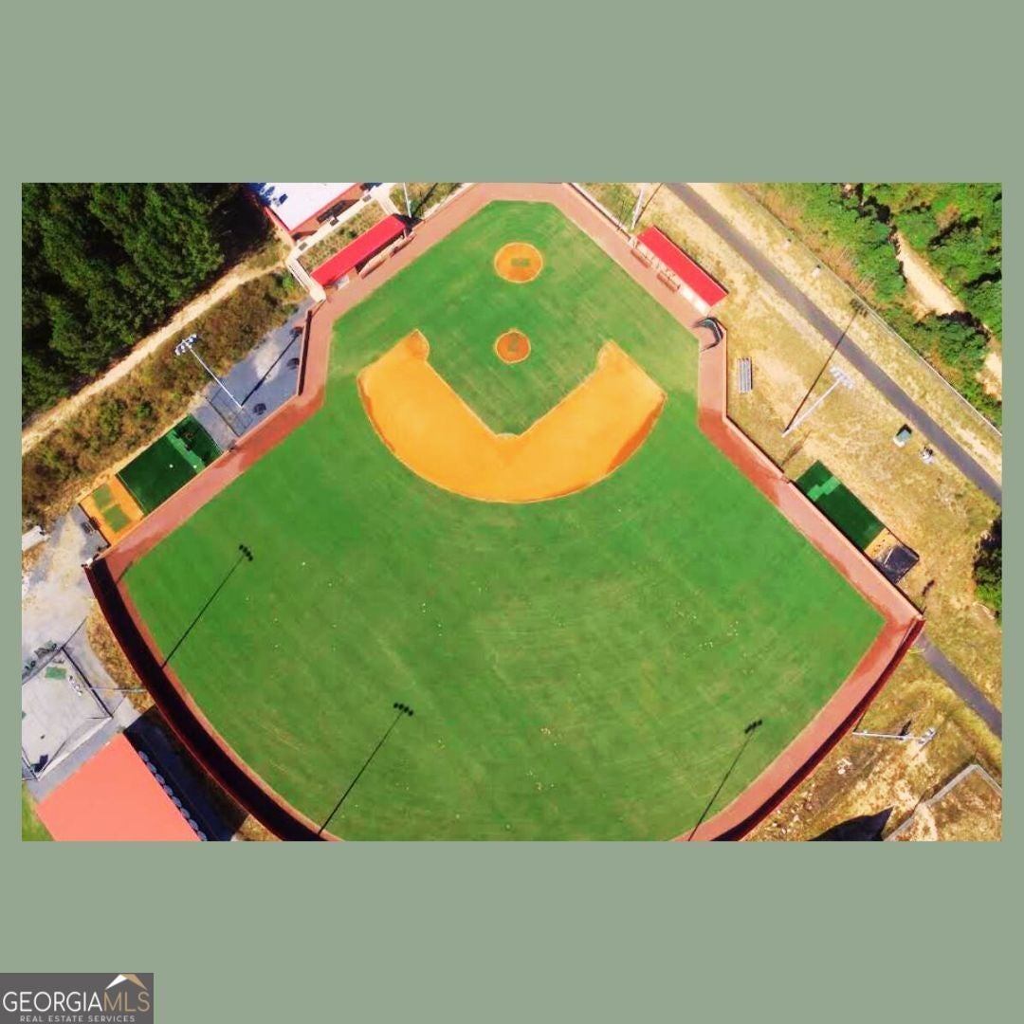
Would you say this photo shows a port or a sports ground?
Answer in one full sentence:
This image shows a sports ground.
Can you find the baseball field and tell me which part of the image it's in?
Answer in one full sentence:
The baseball field is in the center part of the image.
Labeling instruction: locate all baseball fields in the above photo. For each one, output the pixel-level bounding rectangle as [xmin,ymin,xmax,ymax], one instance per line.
[96,182,924,925]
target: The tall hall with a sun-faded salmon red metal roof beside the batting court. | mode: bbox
[36,733,273,1001]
